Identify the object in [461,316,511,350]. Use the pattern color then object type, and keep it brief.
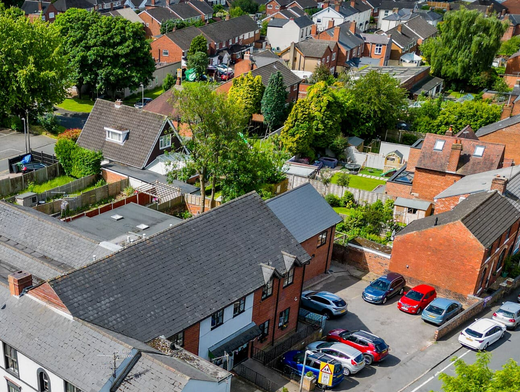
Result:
white car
